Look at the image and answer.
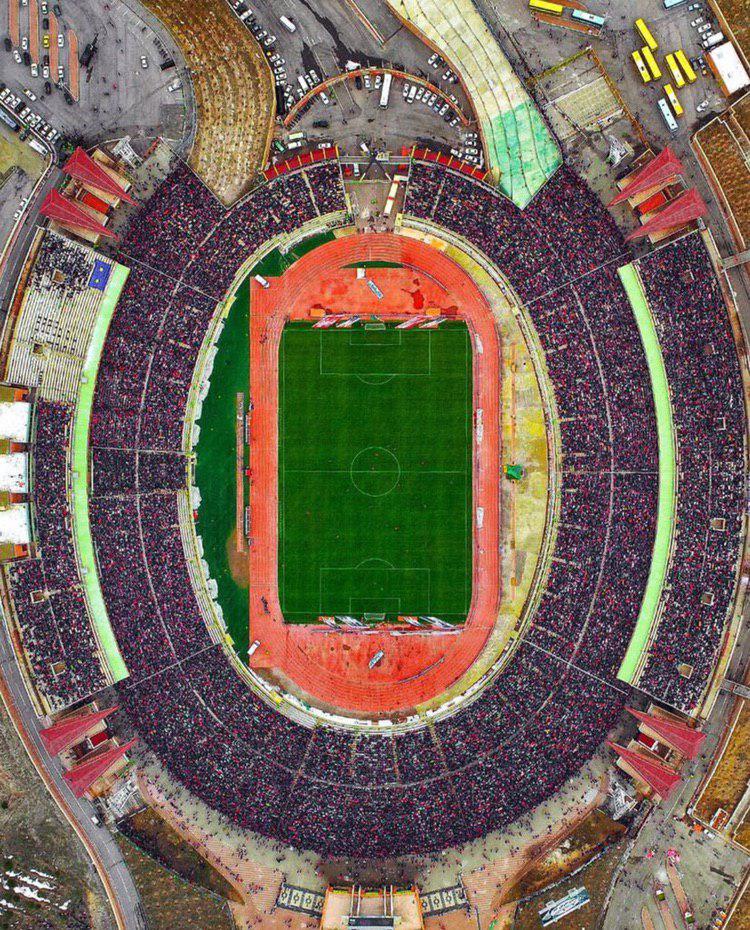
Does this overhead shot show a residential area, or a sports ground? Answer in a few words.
sports ground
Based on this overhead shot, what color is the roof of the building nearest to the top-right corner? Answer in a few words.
white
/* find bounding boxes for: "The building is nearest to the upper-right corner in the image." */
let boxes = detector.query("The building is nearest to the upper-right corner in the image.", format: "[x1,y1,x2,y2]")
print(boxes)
[702,42,750,104]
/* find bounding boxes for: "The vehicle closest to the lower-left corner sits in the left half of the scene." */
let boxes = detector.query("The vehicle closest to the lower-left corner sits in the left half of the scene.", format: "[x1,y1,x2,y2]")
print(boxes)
[88,812,103,828]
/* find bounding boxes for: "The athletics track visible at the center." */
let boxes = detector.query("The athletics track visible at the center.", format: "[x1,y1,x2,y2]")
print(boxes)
[250,235,500,714]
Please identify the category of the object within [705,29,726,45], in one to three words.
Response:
vehicle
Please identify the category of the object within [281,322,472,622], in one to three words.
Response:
soccer field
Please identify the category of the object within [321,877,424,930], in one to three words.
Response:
building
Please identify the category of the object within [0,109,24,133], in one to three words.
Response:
bus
